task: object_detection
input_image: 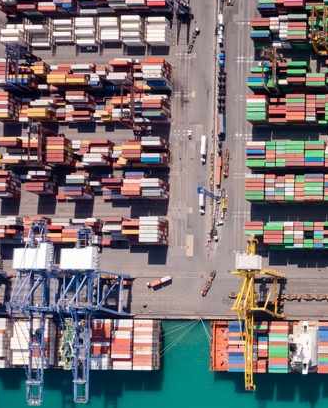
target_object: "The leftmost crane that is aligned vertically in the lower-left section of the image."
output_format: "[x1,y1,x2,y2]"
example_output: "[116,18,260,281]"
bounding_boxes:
[0,222,83,404]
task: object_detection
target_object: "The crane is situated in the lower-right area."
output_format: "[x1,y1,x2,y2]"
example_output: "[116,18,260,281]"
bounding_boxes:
[229,235,287,391]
